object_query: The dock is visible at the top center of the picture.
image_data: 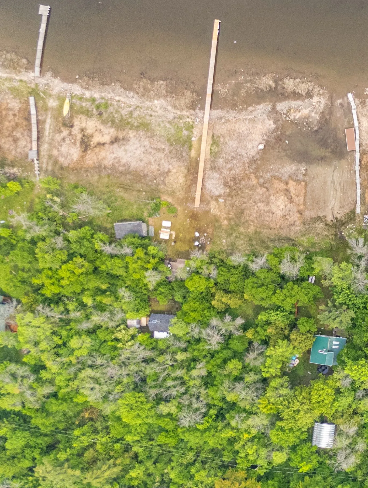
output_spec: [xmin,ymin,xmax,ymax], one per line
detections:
[195,19,220,207]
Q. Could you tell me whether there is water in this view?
Yes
